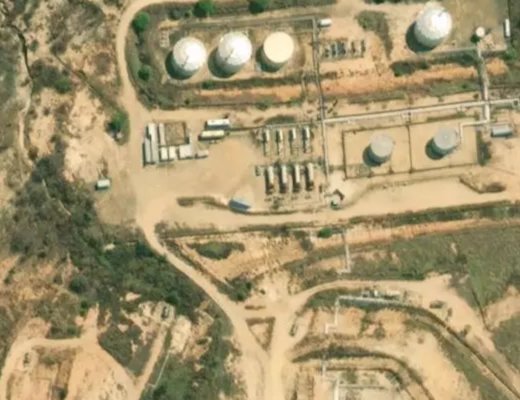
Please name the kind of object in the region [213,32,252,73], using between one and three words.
storage tank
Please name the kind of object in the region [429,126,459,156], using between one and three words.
storage tank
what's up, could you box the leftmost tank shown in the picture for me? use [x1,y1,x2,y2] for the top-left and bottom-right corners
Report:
[169,38,208,77]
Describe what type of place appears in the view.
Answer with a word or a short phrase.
industrial area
